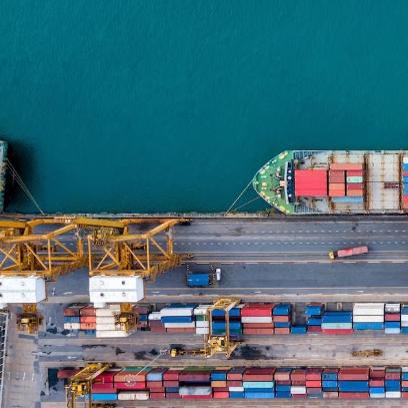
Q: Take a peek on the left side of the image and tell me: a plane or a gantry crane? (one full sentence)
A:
The one visible on the left side of the image is a gantry crane.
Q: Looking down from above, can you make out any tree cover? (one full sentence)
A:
No, there's no tree cover in this view.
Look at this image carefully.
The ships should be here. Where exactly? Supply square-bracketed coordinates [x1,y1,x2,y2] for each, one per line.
[252,149,408,216]
[0,142,10,210]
